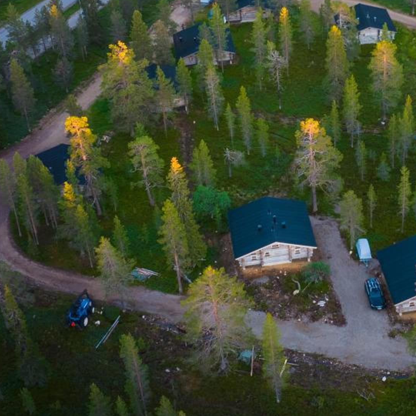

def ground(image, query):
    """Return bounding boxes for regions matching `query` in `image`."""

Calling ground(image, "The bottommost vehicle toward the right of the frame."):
[362,273,388,311]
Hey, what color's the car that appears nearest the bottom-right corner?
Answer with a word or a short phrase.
blue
